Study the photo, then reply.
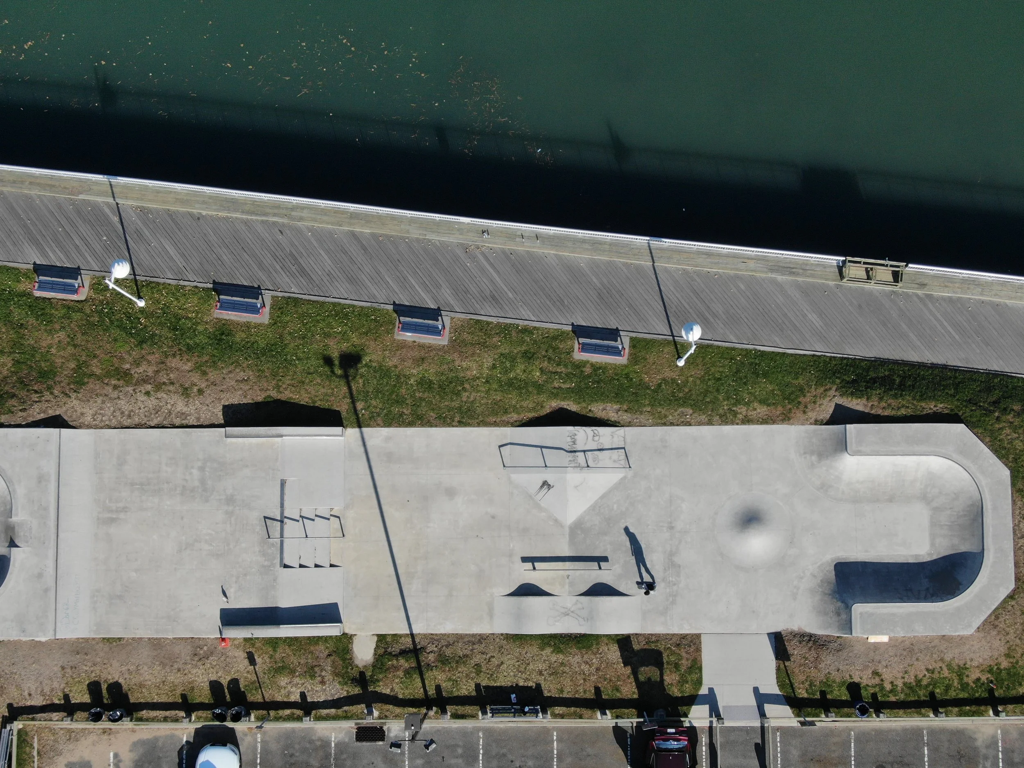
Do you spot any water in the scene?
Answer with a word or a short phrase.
Yes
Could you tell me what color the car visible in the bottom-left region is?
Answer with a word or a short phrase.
white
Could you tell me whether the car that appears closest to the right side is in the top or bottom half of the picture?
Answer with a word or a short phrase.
bottom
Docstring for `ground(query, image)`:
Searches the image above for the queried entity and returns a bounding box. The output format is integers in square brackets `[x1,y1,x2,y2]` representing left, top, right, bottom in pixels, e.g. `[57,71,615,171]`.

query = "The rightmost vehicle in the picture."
[646,724,694,768]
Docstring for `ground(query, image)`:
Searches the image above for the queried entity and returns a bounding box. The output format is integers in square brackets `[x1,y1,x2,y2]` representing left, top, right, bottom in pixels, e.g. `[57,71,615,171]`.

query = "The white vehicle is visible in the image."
[196,742,244,768]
